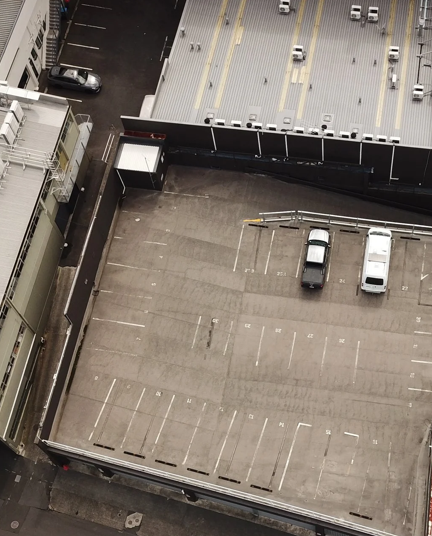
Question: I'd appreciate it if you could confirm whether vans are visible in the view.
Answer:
Yes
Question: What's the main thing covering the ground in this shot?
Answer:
paved ground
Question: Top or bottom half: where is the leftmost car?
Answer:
top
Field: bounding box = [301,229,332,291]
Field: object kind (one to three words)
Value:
truck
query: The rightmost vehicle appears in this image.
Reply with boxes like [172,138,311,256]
[362,228,395,295]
